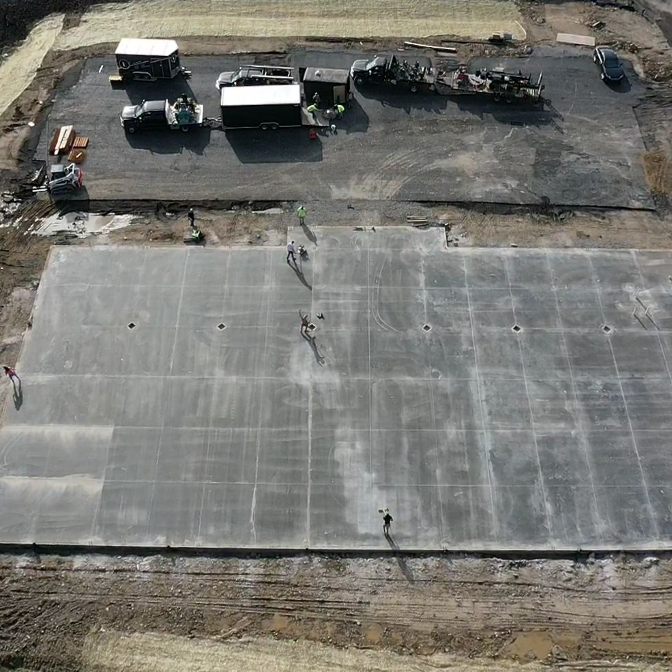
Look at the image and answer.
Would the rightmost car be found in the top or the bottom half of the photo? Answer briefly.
top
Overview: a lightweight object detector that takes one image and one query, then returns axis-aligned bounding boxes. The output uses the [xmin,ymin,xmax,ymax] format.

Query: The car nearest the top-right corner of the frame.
[592,50,632,84]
